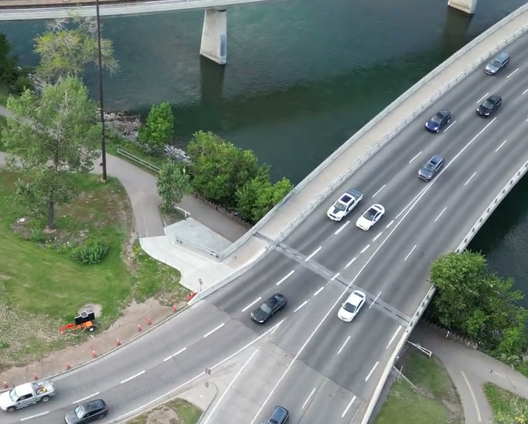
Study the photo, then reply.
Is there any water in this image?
Yes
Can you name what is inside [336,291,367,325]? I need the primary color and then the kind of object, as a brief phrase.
white car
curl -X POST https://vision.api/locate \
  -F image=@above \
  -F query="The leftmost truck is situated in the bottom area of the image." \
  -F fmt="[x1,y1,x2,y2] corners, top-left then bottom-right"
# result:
[0,380,56,413]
